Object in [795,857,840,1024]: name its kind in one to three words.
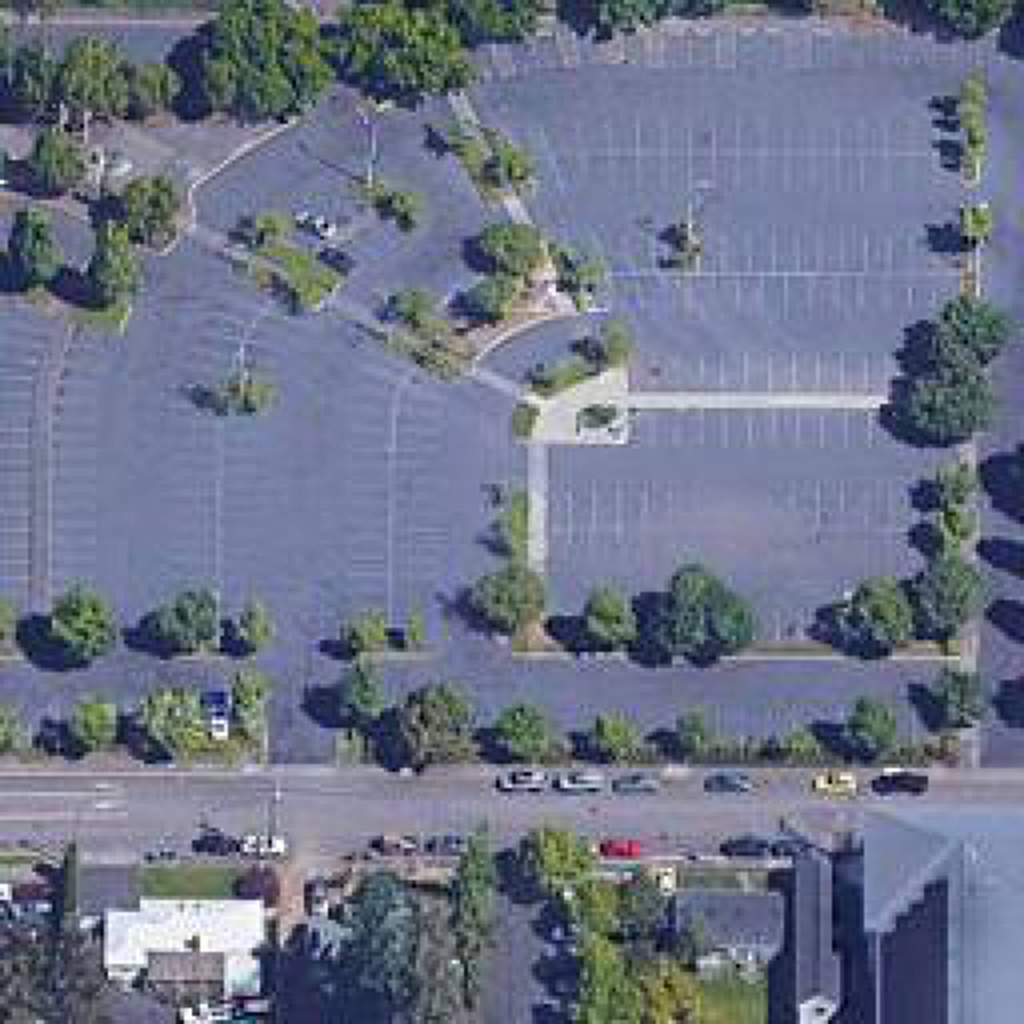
building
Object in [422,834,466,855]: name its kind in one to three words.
car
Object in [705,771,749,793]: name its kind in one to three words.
car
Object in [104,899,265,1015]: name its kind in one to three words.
house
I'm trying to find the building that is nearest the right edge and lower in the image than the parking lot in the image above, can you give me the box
[864,806,1024,1024]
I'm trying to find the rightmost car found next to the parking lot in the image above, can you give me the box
[874,769,925,794]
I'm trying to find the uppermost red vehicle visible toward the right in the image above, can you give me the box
[598,837,642,859]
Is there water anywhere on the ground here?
No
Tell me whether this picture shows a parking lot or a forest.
parking lot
